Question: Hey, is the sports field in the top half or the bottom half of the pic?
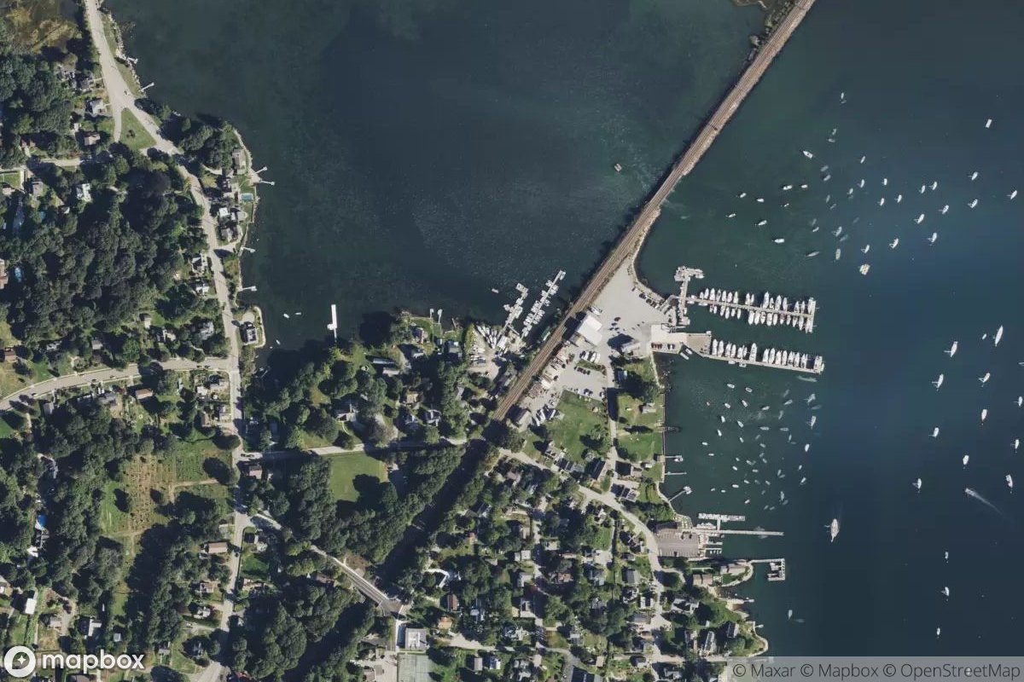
bottom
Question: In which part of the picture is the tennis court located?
bottom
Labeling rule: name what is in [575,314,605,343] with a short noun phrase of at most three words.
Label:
shed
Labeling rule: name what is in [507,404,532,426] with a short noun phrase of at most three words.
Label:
barn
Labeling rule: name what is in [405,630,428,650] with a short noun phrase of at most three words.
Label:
building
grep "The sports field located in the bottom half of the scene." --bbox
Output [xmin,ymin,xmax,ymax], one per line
[328,452,387,503]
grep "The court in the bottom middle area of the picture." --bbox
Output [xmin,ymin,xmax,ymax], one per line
[396,655,433,682]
